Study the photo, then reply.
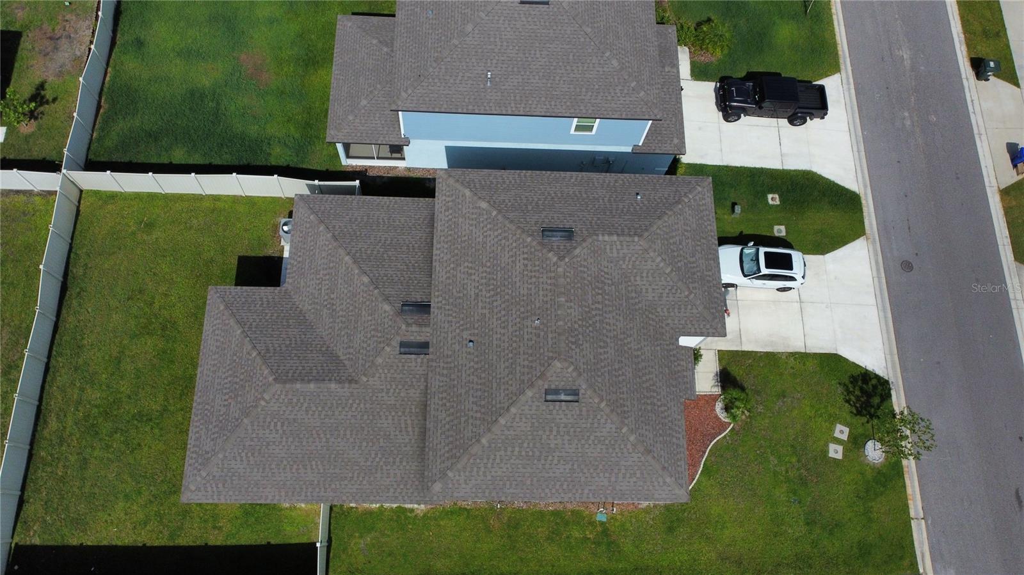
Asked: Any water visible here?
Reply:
No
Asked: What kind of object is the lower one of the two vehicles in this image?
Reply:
automobile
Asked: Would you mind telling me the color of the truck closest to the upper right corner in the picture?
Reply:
black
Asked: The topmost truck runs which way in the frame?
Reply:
horizontally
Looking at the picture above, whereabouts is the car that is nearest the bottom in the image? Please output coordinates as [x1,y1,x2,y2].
[718,242,807,294]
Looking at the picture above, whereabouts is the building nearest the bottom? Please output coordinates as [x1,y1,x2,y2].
[181,169,726,509]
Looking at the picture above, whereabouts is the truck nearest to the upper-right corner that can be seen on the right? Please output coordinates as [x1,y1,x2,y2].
[716,76,829,126]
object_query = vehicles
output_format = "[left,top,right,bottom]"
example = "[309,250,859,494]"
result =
[716,76,829,126]
[718,242,807,294]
